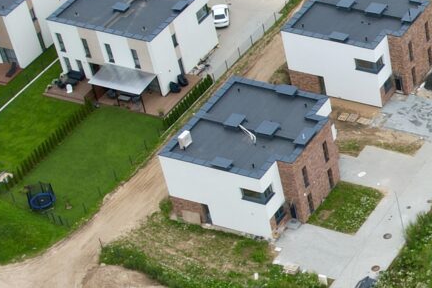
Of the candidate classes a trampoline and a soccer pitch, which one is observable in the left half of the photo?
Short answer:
trampoline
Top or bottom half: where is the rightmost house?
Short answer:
top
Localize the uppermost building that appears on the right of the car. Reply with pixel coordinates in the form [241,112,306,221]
[282,0,432,107]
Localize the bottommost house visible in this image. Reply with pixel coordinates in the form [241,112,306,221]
[158,77,339,240]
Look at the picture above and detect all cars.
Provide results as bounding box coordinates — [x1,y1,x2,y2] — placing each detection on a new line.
[211,6,230,31]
